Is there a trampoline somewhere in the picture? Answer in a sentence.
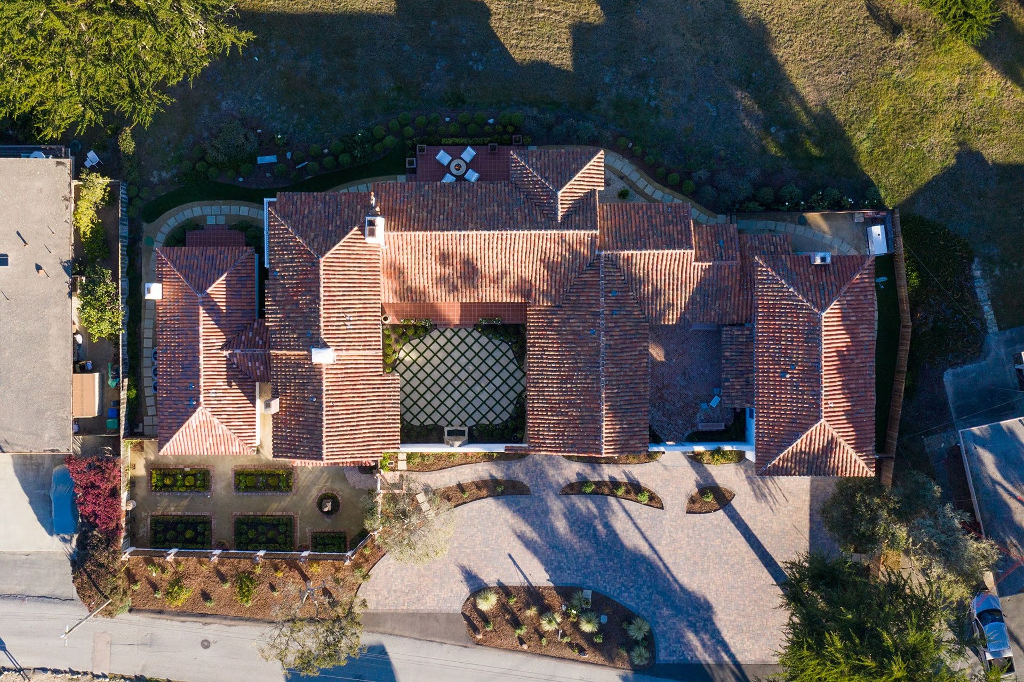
No, the scene contains no trampoline.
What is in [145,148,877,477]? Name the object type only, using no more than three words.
house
